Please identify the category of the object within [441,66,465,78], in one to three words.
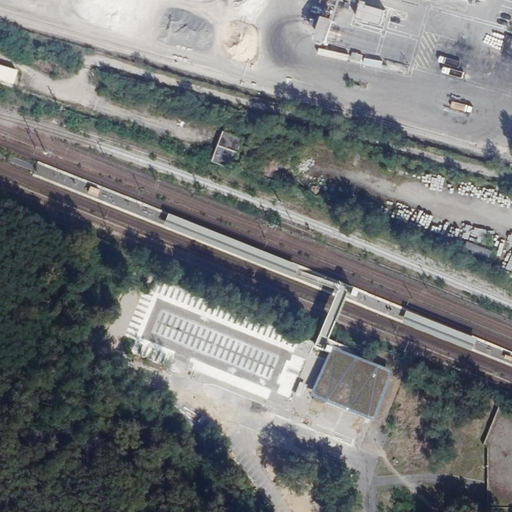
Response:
vehicle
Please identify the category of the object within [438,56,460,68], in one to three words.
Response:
vehicle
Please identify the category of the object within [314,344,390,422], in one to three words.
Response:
building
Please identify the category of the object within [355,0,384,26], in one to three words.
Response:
building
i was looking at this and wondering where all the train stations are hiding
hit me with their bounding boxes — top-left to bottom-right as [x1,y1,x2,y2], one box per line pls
[10,158,512,366]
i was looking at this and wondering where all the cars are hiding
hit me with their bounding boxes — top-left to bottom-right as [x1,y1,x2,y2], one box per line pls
[390,17,401,22]
[500,13,512,20]
[496,18,508,25]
